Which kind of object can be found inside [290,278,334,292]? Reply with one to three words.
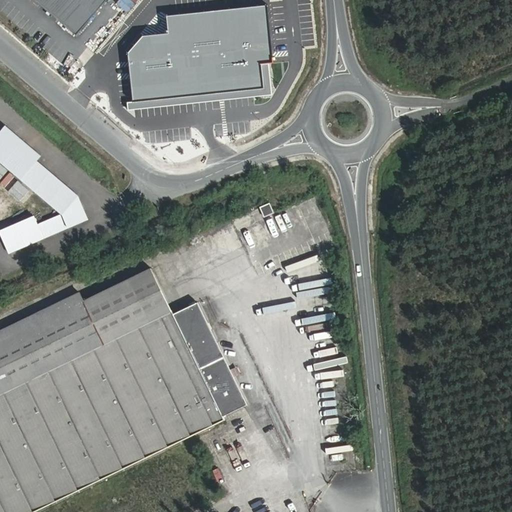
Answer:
vehicle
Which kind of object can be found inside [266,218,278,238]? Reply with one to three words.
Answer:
vehicle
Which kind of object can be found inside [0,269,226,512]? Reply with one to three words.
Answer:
warehouse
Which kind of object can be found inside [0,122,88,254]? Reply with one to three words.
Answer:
building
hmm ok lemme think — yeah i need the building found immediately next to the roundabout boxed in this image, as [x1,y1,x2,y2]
[127,6,272,110]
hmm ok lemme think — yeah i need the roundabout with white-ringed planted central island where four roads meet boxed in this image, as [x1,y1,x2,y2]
[306,76,388,158]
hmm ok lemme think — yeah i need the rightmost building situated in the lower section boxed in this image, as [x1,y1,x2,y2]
[174,303,247,416]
